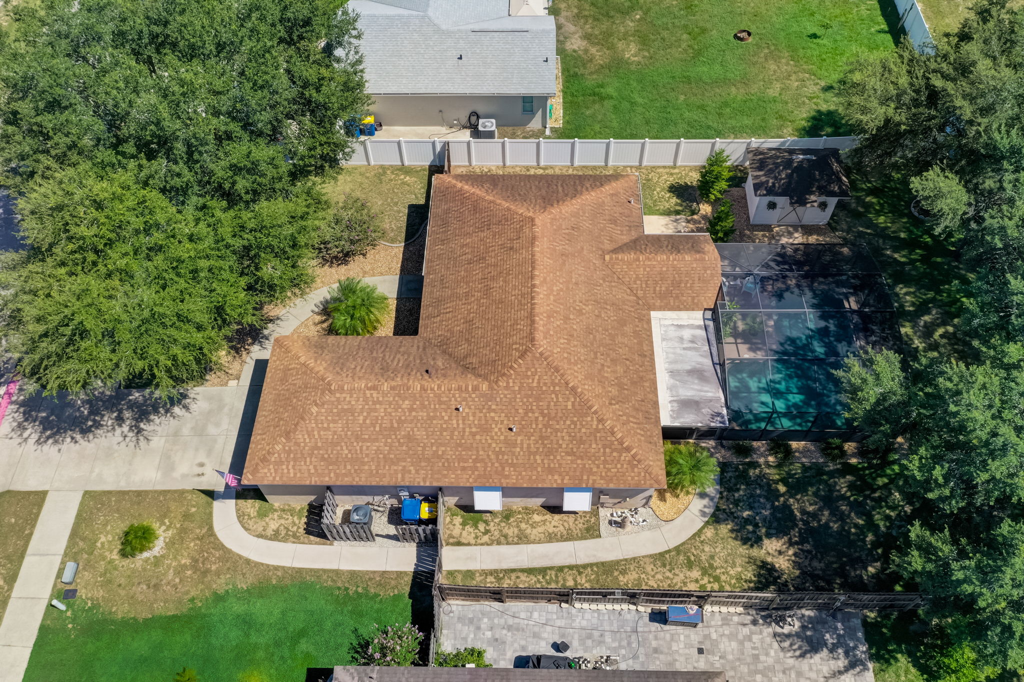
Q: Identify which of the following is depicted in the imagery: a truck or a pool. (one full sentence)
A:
I can see a pool in this picture.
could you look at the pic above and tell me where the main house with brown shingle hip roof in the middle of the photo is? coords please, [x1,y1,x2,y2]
[241,172,731,512]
